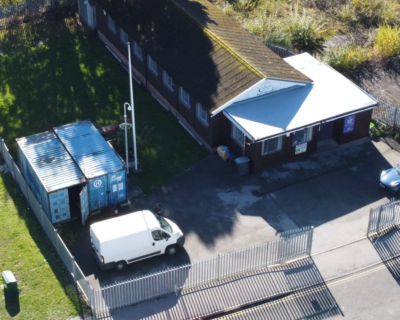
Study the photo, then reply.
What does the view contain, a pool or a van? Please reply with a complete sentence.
There is a van in the scene.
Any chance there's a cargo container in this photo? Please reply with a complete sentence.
Yes, there's a cargo container down there.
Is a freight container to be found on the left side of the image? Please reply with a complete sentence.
Yes, you'll find a freight container on the left side of the image.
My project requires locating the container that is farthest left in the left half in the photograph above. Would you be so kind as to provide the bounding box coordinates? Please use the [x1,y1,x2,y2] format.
[18,129,91,225]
